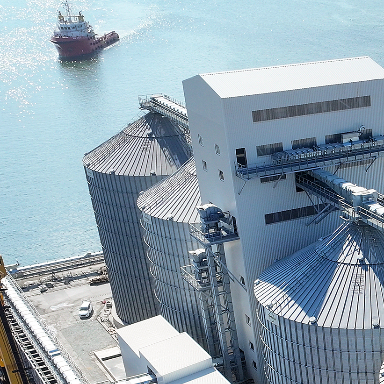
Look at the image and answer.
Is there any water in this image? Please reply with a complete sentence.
Yes, there's water in this view.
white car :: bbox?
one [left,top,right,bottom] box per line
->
[76,302,92,319]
